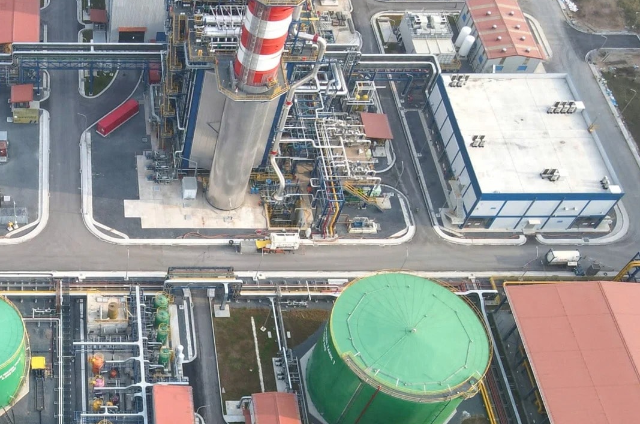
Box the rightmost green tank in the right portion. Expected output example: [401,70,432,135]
[292,268,490,424]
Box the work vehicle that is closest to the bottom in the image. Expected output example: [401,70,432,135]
[570,263,588,276]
